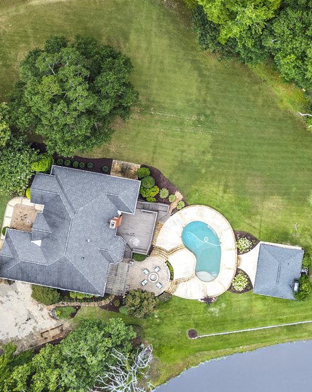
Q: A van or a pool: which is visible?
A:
pool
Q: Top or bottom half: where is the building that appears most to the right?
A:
bottom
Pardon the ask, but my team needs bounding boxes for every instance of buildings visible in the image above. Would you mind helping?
[253,243,304,301]
[0,166,142,297]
